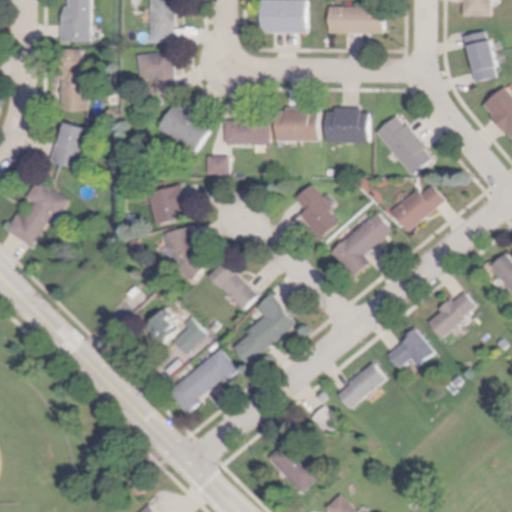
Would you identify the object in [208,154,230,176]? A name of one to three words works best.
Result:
building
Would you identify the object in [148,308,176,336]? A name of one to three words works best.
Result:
house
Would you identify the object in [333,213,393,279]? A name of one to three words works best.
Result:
house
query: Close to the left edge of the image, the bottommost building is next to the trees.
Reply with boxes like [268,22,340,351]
[10,184,70,250]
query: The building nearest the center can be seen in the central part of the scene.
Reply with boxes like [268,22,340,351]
[210,264,256,310]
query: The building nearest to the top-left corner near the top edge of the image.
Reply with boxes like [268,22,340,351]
[62,0,93,43]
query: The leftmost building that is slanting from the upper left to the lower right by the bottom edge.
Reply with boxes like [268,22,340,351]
[270,449,316,493]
